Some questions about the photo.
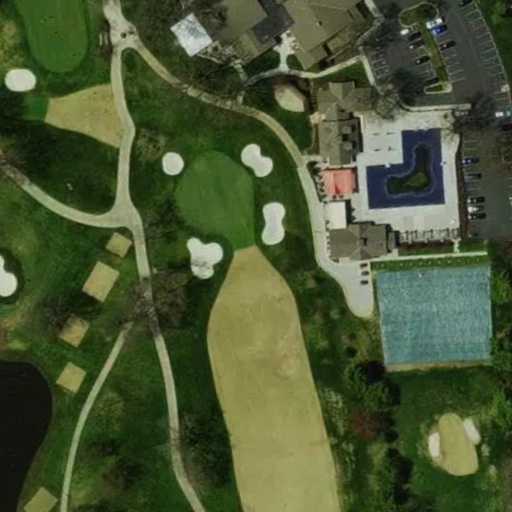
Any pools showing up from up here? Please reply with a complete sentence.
Yes, there's a pool down there.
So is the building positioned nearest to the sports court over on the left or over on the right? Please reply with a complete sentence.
You can find the building positioned nearest to the sports court on the right side of the picture.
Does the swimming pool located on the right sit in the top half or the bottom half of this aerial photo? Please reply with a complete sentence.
You can find the swimming pool located on the right in the top half.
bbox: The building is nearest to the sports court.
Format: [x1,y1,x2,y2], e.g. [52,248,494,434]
[330,223,395,259]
